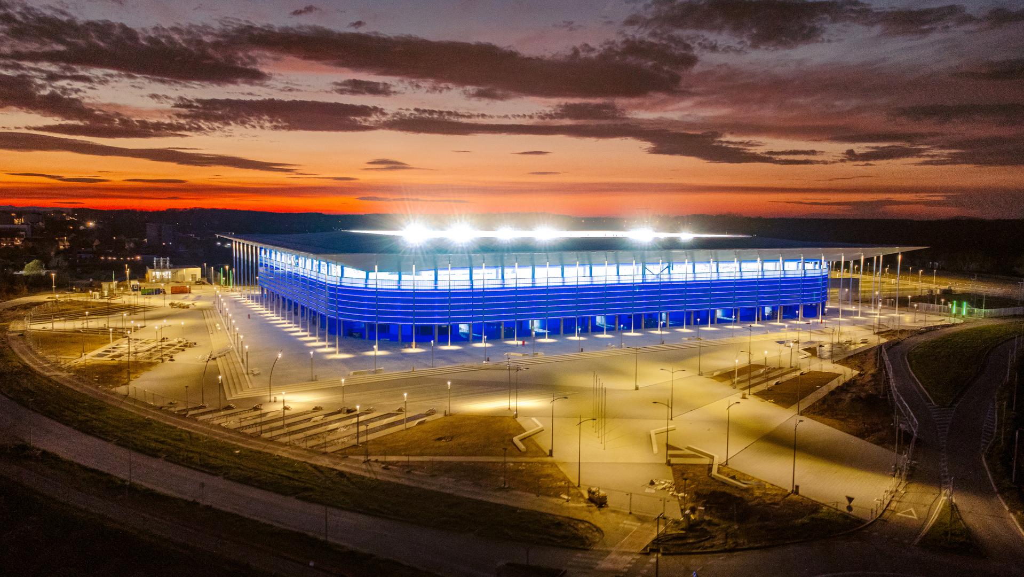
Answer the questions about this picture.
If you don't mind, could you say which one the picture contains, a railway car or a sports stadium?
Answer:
sports stadium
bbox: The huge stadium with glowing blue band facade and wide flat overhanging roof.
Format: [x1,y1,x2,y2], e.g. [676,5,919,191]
[216,230,928,355]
